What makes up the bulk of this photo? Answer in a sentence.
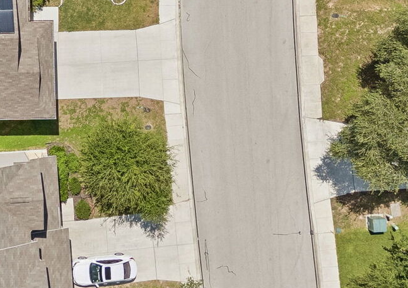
Most of the picture is covered by paved ground.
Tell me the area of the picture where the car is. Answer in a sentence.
The car is in the bottom left part of the image.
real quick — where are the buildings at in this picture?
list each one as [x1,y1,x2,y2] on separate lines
[0,151,72,288]
[0,0,58,123]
